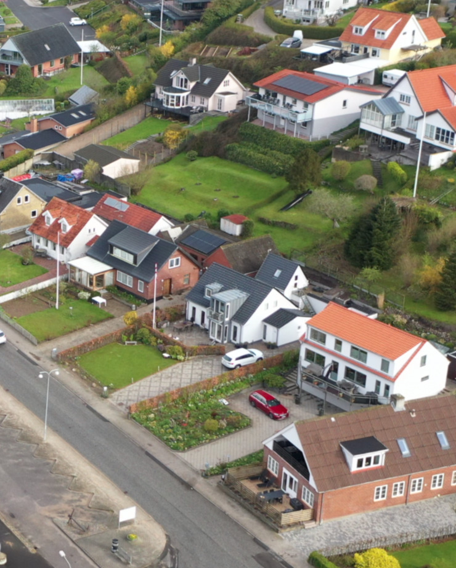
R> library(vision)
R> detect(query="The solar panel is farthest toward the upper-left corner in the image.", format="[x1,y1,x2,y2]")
[102,195,130,210]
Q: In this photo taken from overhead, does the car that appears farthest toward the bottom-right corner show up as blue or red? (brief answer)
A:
red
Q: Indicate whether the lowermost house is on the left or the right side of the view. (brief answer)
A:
right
